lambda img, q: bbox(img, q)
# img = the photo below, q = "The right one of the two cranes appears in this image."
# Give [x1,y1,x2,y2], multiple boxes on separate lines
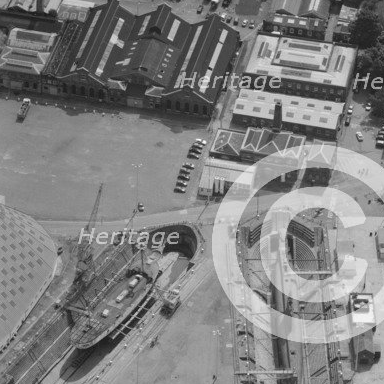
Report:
[146,283,184,321]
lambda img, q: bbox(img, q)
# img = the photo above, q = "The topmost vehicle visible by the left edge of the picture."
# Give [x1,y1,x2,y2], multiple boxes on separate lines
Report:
[16,95,29,118]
